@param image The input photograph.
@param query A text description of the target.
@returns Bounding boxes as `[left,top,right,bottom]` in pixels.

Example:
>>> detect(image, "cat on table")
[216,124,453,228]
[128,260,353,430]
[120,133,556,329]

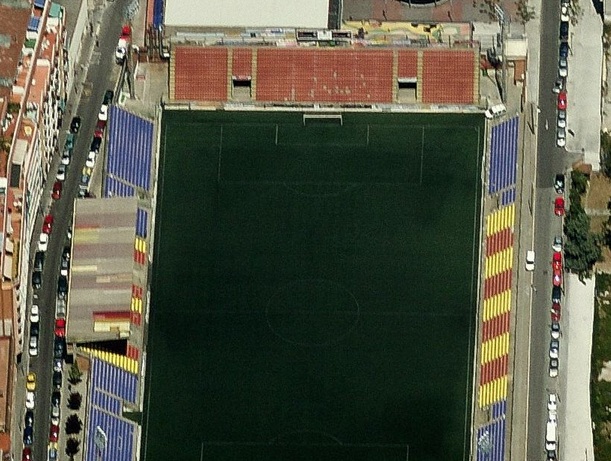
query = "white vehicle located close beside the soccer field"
[483,103,505,120]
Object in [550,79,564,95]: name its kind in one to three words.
vehicle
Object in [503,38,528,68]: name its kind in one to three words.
building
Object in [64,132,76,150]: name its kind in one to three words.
vehicle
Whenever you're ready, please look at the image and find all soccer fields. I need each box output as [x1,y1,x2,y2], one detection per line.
[121,110,485,461]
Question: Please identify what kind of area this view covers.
sports ground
